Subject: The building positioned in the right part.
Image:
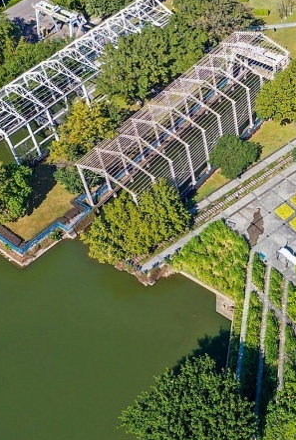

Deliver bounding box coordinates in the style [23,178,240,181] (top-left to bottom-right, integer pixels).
[75,31,289,215]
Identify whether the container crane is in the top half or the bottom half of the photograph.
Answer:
top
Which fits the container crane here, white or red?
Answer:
white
